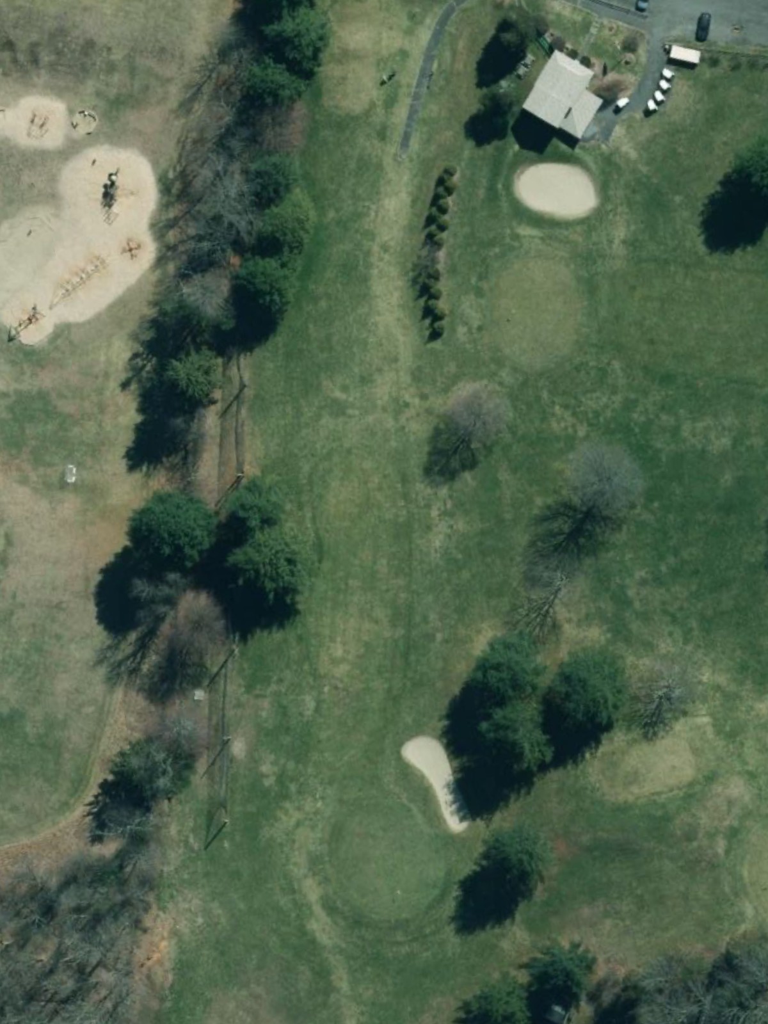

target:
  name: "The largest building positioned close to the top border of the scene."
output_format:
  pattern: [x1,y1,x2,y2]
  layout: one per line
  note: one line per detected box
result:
[523,50,603,138]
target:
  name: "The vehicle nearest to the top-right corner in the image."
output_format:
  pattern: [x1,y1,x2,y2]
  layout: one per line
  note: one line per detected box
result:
[696,12,711,42]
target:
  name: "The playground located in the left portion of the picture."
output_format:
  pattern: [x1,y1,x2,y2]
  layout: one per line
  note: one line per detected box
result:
[0,91,159,348]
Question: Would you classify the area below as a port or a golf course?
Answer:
golf course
